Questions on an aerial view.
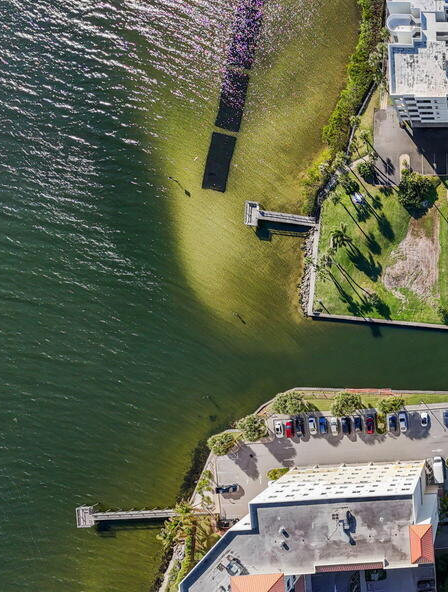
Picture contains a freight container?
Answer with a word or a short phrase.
No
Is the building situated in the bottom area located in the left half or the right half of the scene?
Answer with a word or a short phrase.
right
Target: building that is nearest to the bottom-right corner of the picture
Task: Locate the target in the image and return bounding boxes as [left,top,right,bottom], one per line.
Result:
[179,459,445,592]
